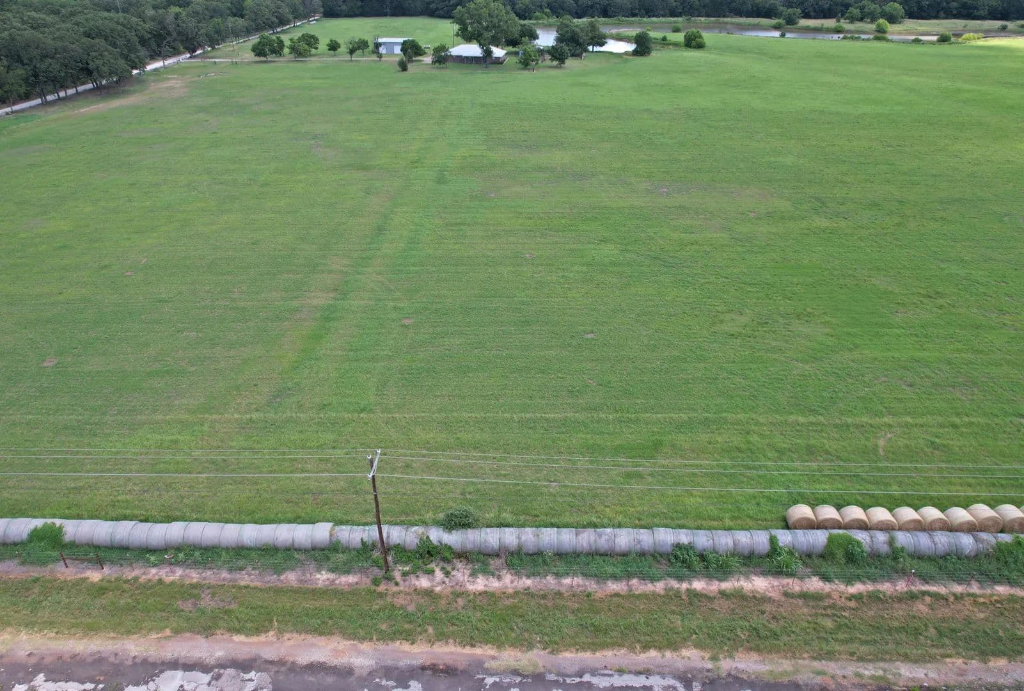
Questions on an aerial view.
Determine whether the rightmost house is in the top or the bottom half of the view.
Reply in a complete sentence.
The top half of the photo is where the rightmost house is.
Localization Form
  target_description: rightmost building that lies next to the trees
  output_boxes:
[449,43,506,67]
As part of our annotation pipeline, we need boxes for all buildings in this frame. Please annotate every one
[449,43,506,67]
[377,39,412,54]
